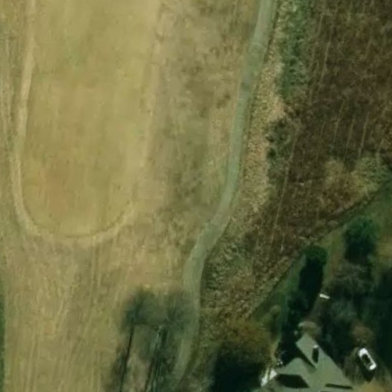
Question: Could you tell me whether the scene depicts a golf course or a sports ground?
golf course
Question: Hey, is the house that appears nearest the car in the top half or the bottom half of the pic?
bottom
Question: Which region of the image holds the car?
bottom right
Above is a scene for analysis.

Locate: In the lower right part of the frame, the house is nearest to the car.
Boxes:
[248,330,360,392]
